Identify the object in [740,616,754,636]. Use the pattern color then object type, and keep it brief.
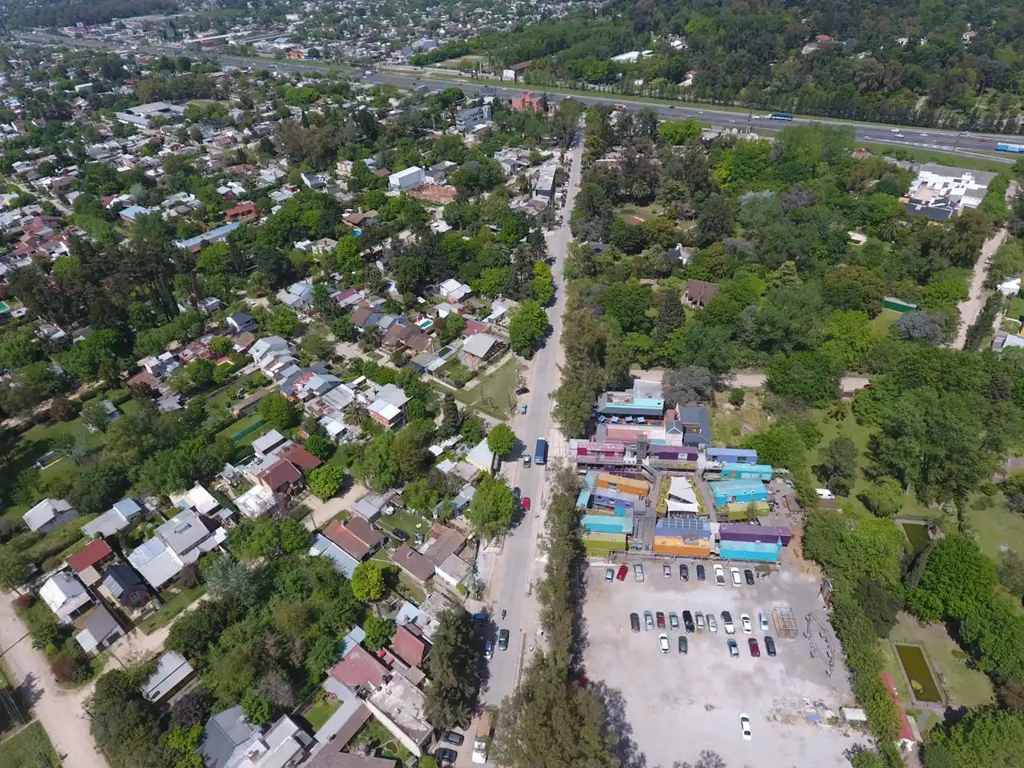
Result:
white car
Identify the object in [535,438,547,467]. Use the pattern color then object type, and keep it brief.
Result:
blue vehicle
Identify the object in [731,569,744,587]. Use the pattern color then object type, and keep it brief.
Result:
white vehicle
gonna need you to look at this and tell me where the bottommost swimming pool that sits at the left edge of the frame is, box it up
[35,449,63,469]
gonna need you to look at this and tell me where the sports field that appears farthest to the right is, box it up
[432,56,490,74]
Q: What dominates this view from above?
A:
trees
